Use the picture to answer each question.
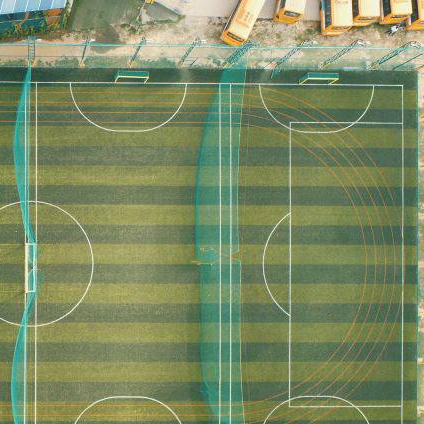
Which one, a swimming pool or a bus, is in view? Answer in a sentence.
There is a bus in the scene.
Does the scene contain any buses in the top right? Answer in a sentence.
Yes, a bus appears in the top right.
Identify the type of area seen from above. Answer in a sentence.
The picture captures a sports ground.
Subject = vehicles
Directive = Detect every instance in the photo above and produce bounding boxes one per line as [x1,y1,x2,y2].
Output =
[406,0,424,31]
[321,0,353,37]
[276,0,307,25]
[220,0,264,50]
[350,0,380,27]
[380,0,413,24]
